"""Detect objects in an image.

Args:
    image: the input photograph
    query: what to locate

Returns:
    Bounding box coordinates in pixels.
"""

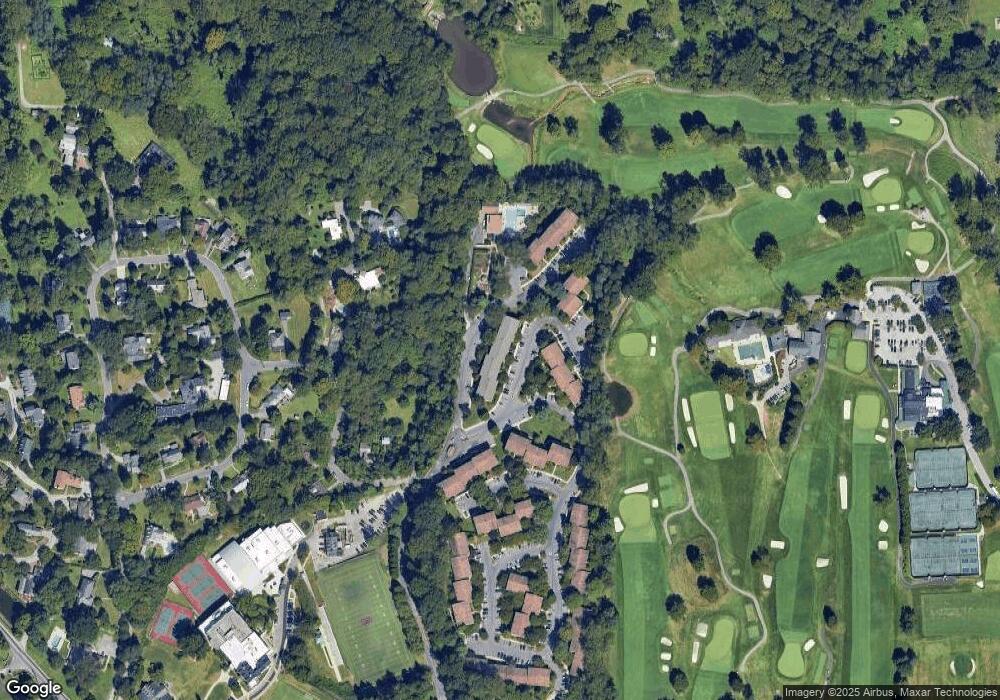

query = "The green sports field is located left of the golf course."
[317,549,413,683]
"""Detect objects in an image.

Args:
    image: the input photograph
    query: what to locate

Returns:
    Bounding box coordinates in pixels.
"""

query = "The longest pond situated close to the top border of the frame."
[438,17,498,97]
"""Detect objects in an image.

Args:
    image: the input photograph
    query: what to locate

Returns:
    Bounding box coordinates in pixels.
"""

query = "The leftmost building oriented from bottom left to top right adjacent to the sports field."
[209,519,305,594]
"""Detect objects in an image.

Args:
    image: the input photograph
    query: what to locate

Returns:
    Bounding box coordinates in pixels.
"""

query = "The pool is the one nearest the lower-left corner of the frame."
[48,627,65,652]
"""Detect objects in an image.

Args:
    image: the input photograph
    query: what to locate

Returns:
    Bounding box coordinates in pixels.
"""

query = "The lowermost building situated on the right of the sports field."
[492,666,551,687]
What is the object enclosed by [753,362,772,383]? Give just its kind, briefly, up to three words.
swimming pool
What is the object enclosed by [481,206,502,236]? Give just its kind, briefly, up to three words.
building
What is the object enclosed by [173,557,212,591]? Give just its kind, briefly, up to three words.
tennis court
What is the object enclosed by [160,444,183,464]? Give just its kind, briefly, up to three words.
house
